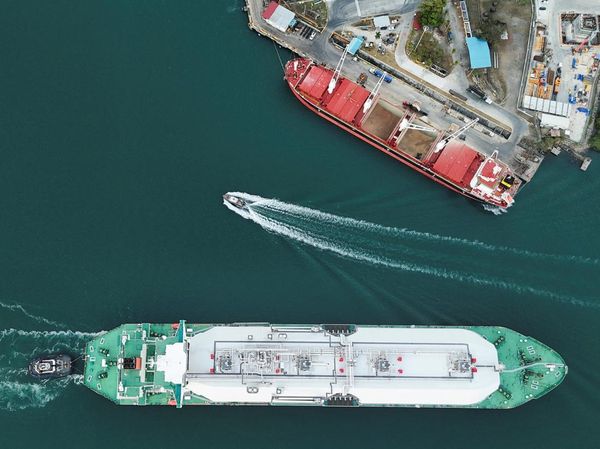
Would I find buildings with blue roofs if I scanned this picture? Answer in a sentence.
Yes, looking at the shot, I can spot a building with a blue roof.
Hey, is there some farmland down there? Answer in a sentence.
No, farmland can't be seen anywhere here.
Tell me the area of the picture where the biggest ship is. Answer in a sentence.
The biggest ship is in the bottom part of the image.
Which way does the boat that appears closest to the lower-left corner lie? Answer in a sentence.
The boat that appears closest to the lower-left corner is oriented from left to right.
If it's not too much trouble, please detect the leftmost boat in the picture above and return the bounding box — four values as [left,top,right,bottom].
[27,353,83,379]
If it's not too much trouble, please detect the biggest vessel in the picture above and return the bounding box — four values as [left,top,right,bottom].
[84,320,569,410]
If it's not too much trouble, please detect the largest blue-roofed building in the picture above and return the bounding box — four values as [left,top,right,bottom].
[466,36,491,69]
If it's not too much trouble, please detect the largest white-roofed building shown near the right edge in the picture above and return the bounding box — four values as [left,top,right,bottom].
[540,114,571,129]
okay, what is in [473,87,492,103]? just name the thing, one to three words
vehicle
